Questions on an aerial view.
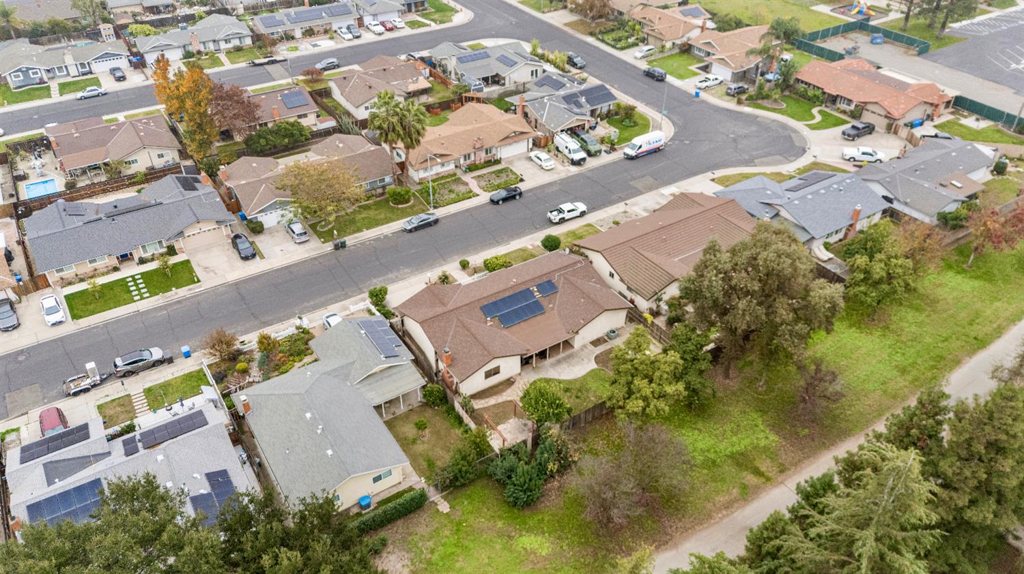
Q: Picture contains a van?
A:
Yes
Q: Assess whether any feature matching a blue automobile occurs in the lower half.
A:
No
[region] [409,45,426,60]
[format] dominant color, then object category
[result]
white car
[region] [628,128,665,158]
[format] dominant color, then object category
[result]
white van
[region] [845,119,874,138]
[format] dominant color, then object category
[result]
gray vehicle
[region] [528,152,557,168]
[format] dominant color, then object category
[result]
white car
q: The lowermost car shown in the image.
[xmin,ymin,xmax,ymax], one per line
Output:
[39,408,66,437]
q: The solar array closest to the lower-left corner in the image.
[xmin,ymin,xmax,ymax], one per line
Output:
[26,478,105,528]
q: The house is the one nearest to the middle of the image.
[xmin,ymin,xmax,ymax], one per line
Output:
[396,249,633,395]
